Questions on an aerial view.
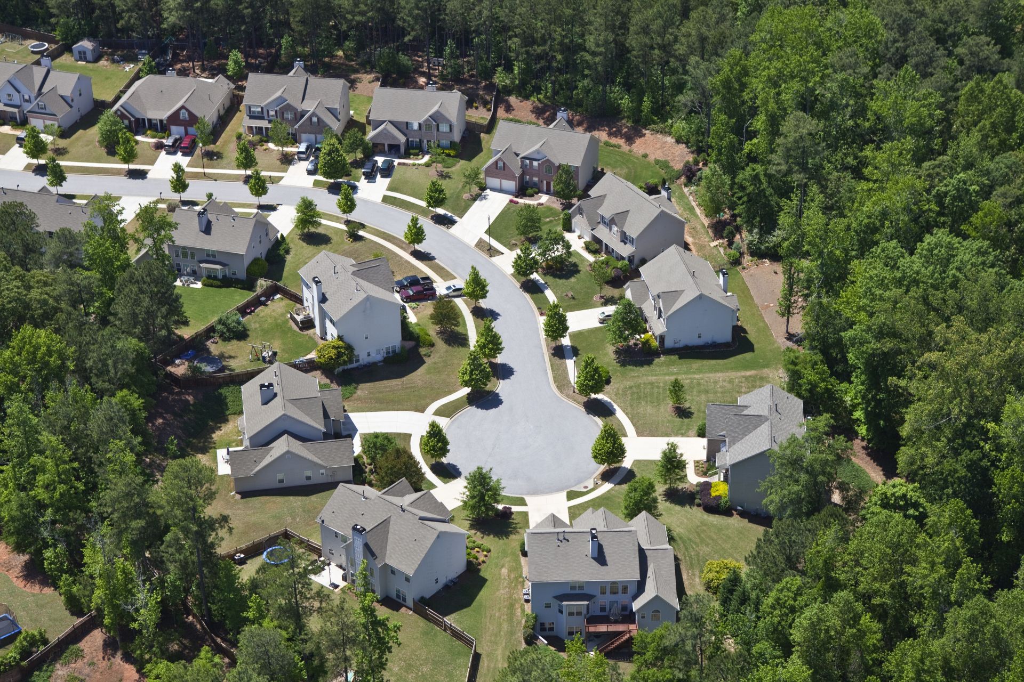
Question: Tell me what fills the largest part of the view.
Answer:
trees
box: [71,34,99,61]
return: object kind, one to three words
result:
shed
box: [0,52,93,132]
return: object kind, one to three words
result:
house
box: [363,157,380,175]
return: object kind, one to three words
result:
car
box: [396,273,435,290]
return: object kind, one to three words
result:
vehicle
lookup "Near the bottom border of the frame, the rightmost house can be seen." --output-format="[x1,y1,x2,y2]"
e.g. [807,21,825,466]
[526,507,680,659]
